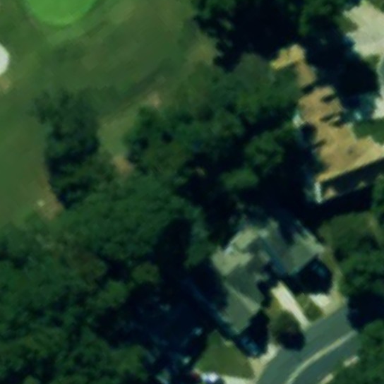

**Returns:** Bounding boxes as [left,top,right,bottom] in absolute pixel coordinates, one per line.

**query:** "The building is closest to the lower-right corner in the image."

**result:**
[205,203,329,331]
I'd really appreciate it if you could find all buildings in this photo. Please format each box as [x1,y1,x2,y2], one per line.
[269,42,384,198]
[205,203,329,331]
